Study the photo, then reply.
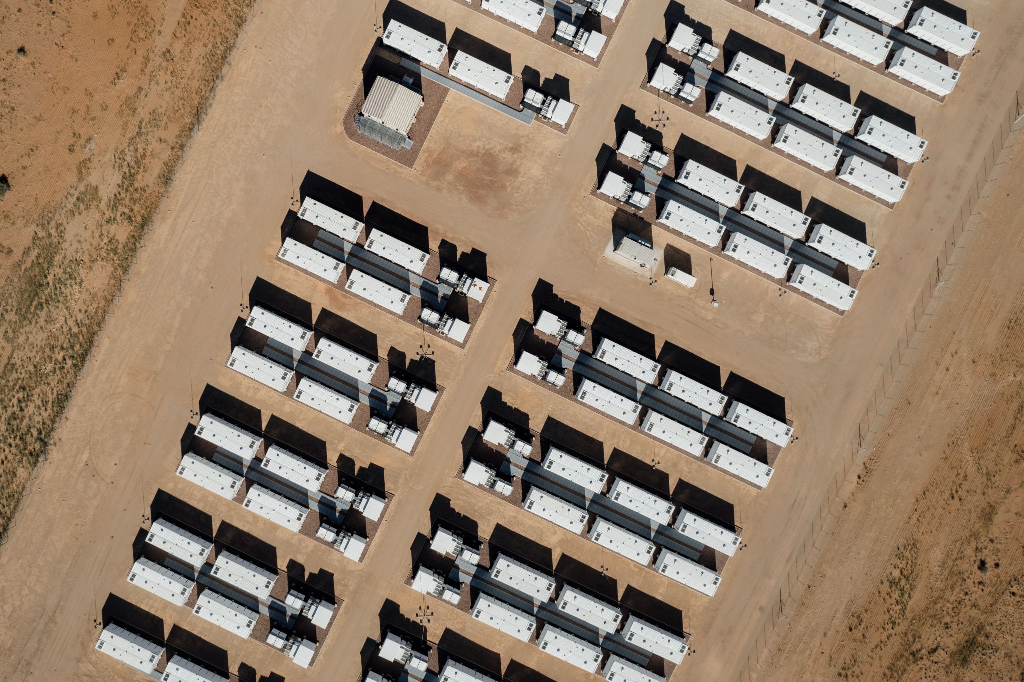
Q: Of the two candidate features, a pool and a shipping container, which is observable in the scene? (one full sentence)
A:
Looking from above, you can make out a shipping container.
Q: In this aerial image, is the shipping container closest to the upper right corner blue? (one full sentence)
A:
No, from above the shipping container closest to the upper right corner looks white.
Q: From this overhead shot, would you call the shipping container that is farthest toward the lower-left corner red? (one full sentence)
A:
No, the color of the shipping container that is farthest toward the lower-left corner is white.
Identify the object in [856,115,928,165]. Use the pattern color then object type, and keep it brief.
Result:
white shipping container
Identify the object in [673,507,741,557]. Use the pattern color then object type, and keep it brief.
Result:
white shipping container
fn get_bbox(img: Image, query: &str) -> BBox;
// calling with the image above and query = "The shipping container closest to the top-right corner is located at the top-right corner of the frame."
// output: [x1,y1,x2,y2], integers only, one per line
[906,8,979,59]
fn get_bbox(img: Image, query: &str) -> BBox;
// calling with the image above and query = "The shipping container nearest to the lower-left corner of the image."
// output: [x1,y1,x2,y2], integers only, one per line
[94,624,166,675]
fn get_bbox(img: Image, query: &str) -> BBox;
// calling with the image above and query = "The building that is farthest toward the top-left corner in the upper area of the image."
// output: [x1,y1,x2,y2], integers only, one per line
[356,77,427,152]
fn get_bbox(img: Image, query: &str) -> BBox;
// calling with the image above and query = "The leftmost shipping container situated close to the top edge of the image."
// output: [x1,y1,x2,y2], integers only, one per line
[384,19,449,70]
